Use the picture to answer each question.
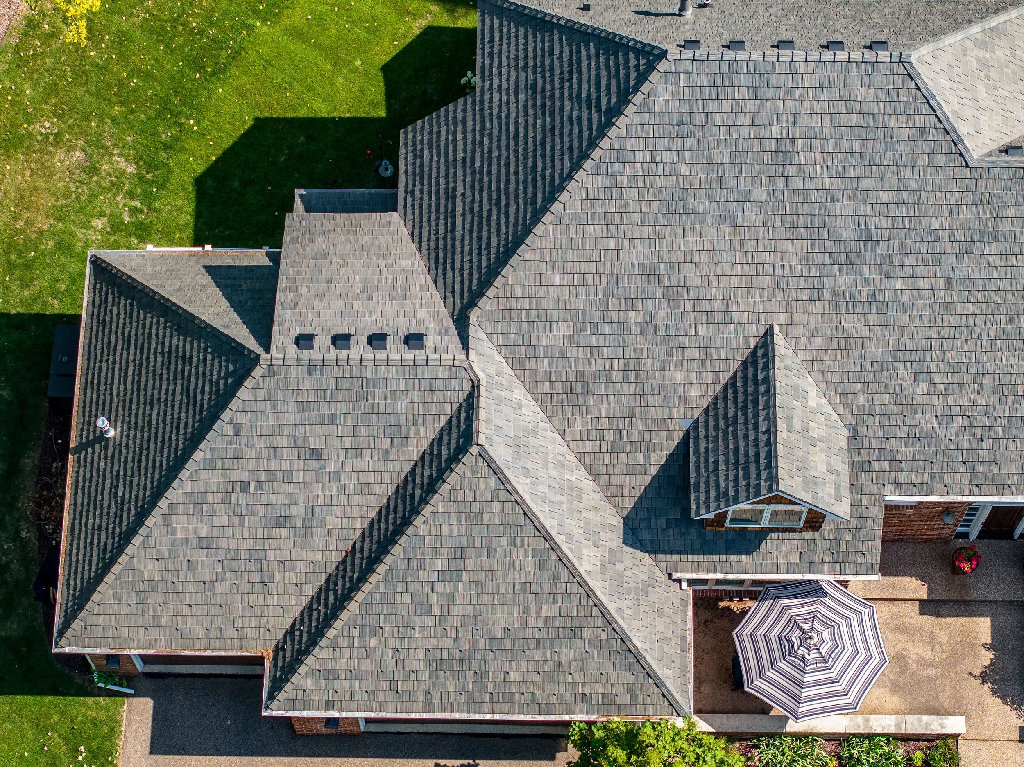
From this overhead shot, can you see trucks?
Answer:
No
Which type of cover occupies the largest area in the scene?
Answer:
buildings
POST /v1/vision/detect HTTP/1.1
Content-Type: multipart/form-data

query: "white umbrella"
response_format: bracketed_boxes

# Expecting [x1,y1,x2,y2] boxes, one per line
[732,585,890,723]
